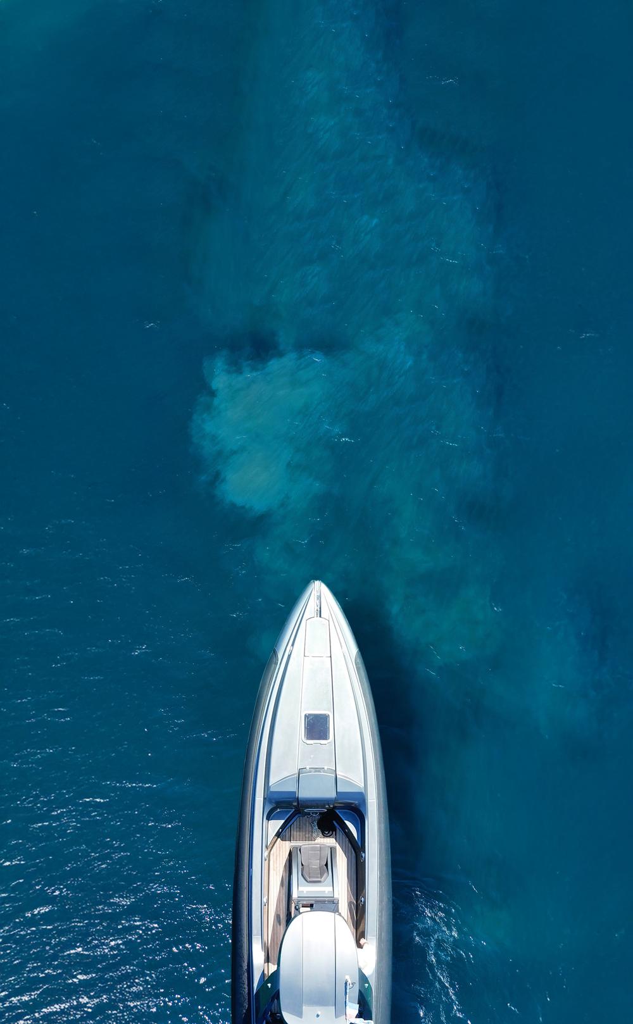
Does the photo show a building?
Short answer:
No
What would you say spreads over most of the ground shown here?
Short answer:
water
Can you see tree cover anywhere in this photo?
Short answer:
No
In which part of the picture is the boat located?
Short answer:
bottom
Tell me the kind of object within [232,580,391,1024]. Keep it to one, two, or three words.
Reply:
boat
